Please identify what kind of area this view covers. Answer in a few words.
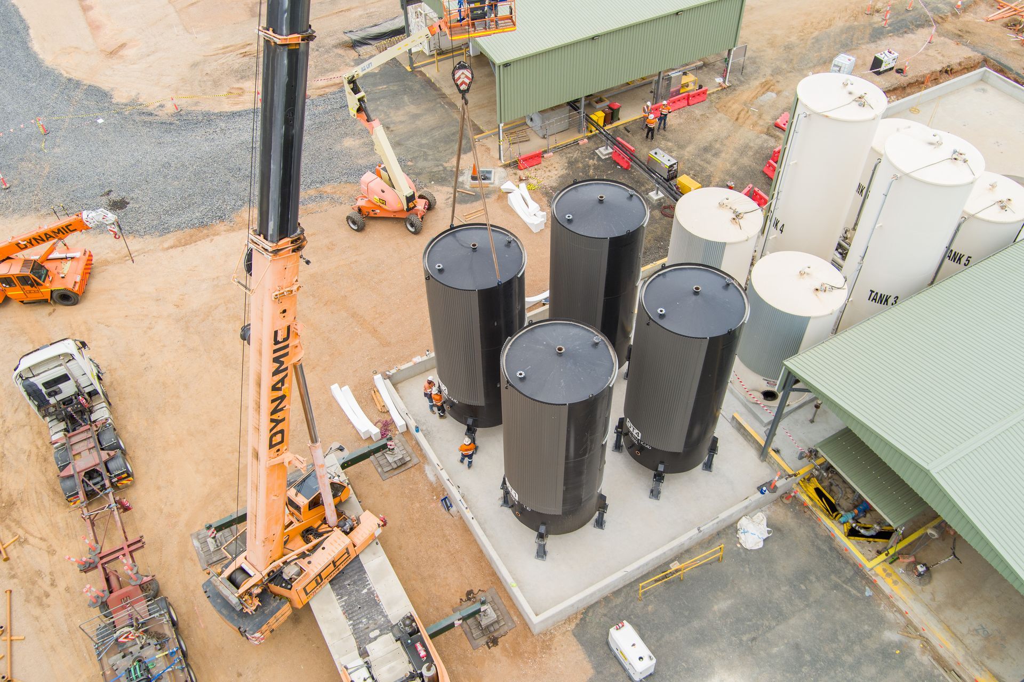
industrial area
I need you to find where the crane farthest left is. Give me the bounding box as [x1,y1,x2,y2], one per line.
[0,209,134,311]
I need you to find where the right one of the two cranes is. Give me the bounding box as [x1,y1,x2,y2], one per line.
[202,0,497,682]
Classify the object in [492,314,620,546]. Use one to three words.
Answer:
storage tank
